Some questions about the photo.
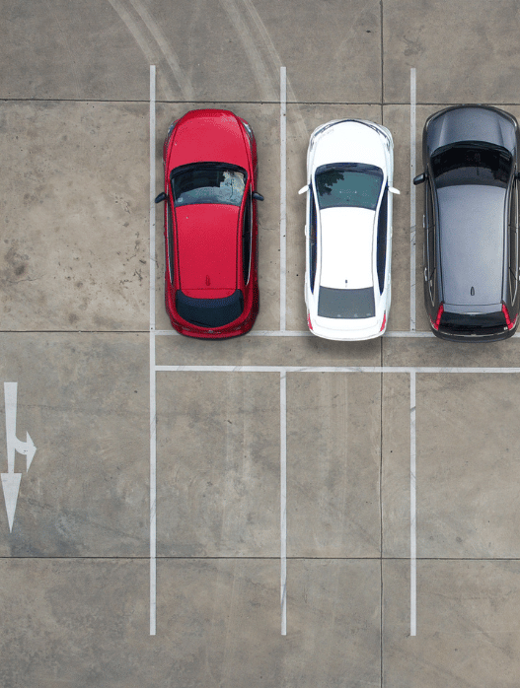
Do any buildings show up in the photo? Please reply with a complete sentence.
No, I can't see a single building in this photo.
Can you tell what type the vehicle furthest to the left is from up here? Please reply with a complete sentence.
What you see as the vehicle furthest to the left is an automobile.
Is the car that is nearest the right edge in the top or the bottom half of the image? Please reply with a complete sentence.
Seen from above, the car that is nearest the right edge lies in the top half of the view.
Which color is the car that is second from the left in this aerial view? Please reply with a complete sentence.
In this view, the car that is second from the left is white.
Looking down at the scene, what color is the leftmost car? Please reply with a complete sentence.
The leftmost car looks red in the image.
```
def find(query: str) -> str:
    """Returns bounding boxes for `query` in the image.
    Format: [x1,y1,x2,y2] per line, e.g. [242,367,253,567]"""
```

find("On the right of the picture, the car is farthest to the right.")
[414,105,520,342]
